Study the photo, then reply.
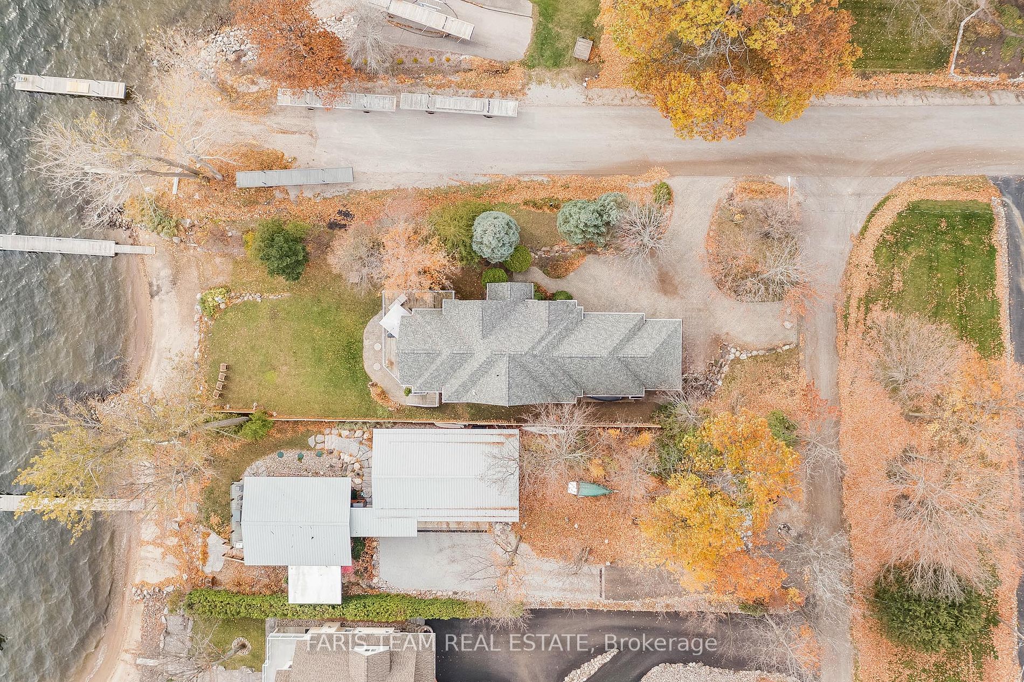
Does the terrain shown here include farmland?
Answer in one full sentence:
No, the picture contains no farmland.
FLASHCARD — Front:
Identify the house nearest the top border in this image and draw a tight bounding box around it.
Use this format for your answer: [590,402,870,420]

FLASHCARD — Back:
[396,282,683,405]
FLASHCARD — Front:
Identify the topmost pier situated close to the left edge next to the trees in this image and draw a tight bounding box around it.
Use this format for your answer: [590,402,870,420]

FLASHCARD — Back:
[14,74,128,99]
